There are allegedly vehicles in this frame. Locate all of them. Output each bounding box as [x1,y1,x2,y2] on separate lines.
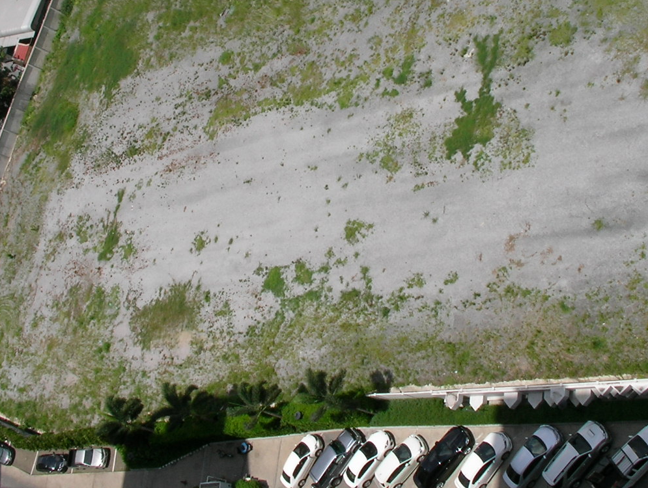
[310,418,367,488]
[415,421,480,488]
[375,429,432,488]
[507,417,570,488]
[542,414,616,488]
[591,419,648,488]
[68,444,114,471]
[344,426,397,488]
[461,428,521,488]
[277,428,325,488]
[36,451,71,477]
